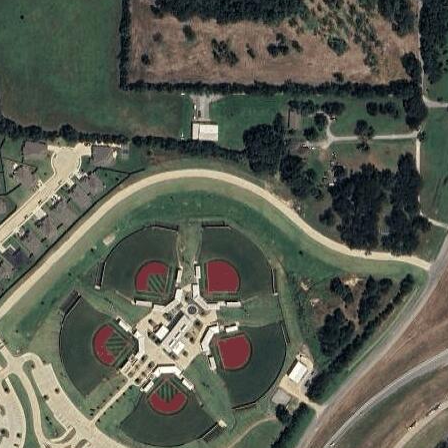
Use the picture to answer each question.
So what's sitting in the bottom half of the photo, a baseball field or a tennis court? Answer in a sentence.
What appears in the bottom half of the photo is a baseball field.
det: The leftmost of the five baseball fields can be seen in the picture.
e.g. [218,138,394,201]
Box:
[60,298,138,396]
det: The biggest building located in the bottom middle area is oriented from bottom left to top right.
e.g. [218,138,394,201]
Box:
[162,314,193,348]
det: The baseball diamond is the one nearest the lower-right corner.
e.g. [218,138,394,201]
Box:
[210,321,286,409]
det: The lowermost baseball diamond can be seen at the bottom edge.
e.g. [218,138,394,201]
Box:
[121,376,217,447]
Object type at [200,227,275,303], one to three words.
baseball field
